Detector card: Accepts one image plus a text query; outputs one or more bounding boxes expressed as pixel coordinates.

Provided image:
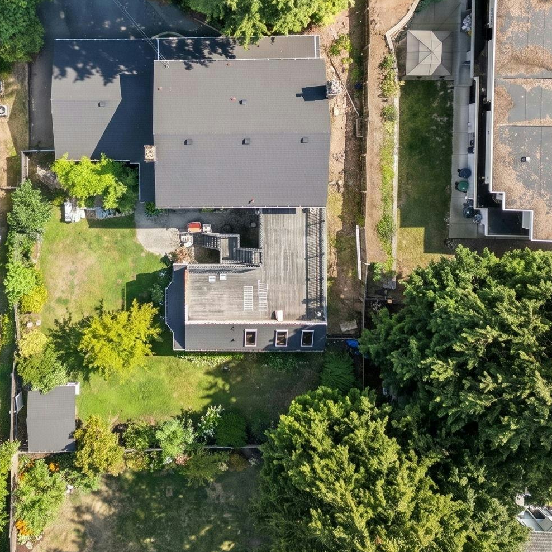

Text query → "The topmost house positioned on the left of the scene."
[50,30,343,208]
